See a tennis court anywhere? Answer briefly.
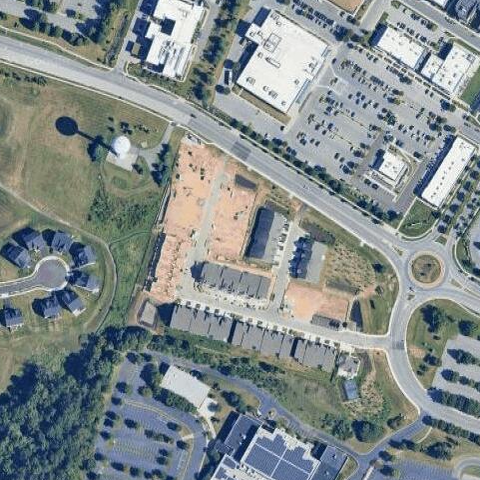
No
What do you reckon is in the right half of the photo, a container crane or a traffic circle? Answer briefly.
traffic circle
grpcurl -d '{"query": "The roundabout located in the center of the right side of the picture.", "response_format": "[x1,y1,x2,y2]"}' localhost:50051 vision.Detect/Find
[396,238,459,300]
